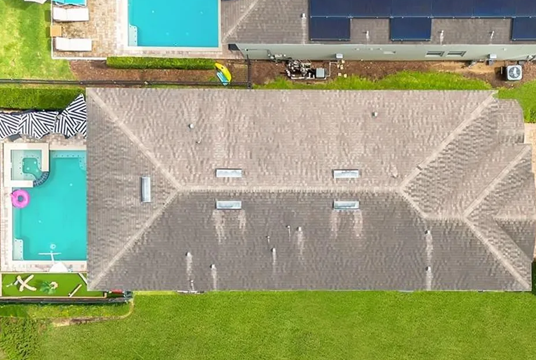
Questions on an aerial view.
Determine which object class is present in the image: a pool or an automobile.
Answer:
pool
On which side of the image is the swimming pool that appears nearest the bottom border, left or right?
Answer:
left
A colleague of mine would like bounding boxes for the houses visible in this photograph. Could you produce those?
[85,87,536,292]
[220,0,536,60]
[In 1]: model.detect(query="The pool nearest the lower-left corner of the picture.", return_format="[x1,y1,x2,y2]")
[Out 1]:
[4,142,86,266]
